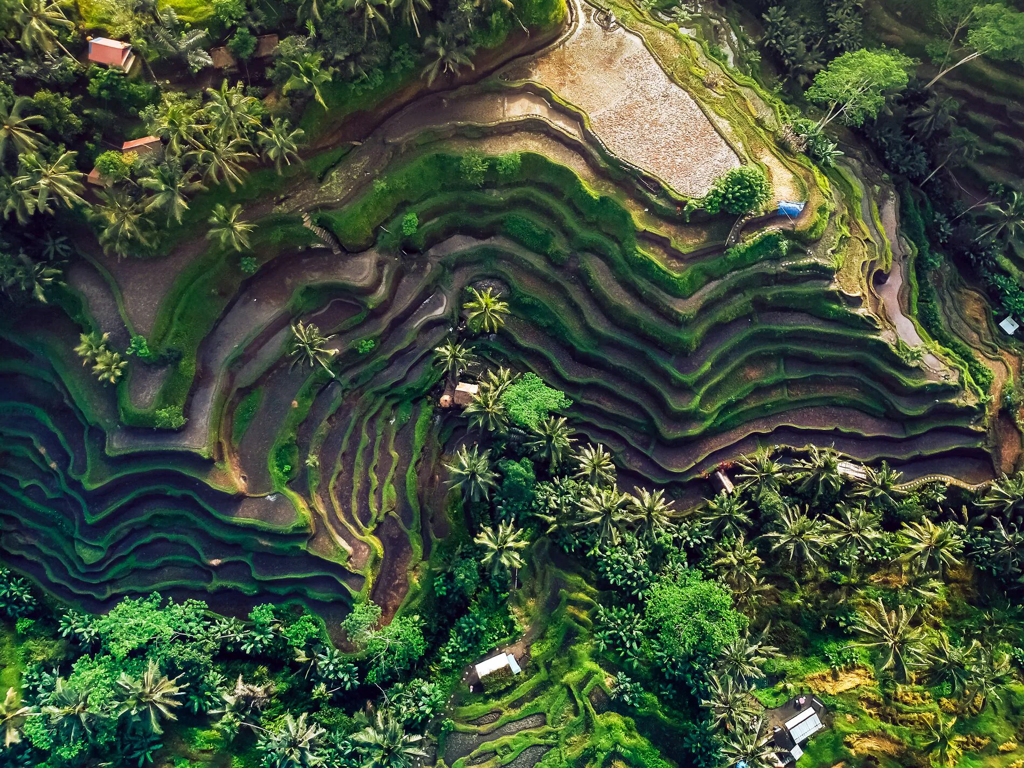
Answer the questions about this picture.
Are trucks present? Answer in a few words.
No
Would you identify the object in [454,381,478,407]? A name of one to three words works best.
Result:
shed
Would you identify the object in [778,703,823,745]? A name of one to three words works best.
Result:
shed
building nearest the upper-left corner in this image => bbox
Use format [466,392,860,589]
[88,37,146,77]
